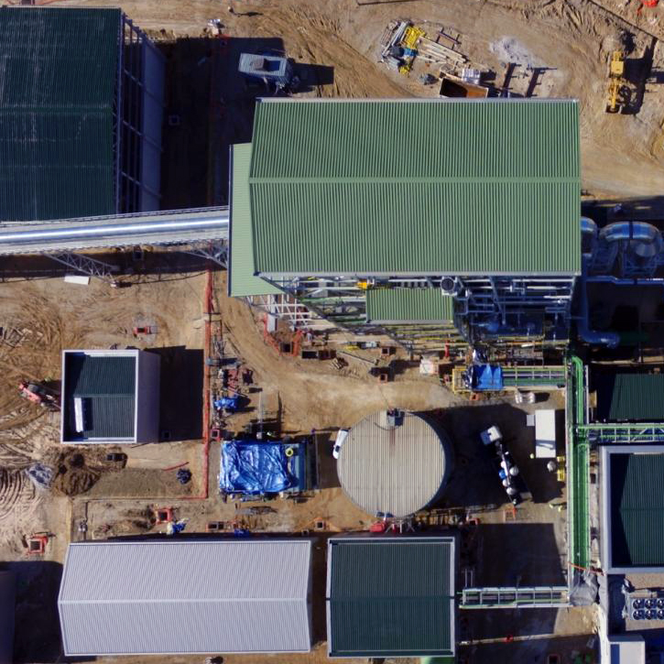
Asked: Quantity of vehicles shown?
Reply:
four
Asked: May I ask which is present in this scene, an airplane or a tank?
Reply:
tank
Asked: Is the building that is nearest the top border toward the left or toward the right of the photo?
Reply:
left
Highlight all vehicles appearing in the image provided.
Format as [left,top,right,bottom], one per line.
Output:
[487,430,536,515]
[608,55,628,113]
[327,427,348,458]
[15,381,59,413]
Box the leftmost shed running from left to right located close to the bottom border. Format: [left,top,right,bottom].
[60,533,325,657]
